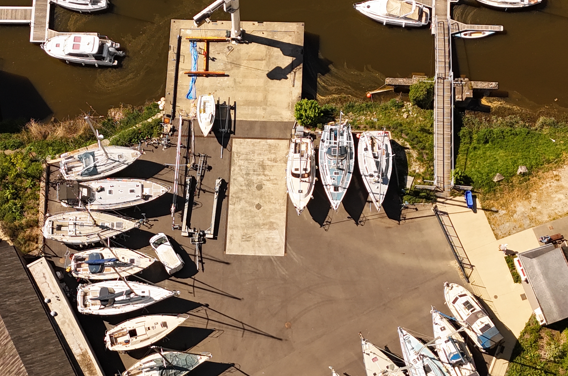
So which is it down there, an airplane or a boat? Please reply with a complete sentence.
This aerial view contains a boat.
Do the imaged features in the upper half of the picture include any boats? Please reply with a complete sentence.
Yes, in the upper half of the picture there is a boat.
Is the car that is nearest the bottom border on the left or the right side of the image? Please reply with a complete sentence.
You can find the car that is nearest the bottom border on the left side of the picture.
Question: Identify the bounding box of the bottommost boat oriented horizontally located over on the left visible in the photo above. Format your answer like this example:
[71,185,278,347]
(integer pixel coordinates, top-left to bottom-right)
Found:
[122,337,214,376]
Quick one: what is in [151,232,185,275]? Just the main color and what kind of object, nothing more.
white car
